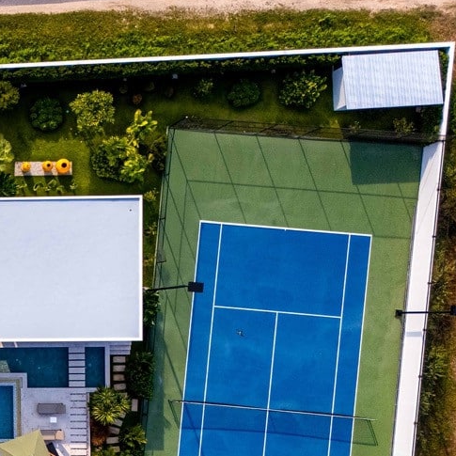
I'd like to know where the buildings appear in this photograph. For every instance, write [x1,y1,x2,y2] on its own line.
[0,195,142,342]
[326,51,444,115]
